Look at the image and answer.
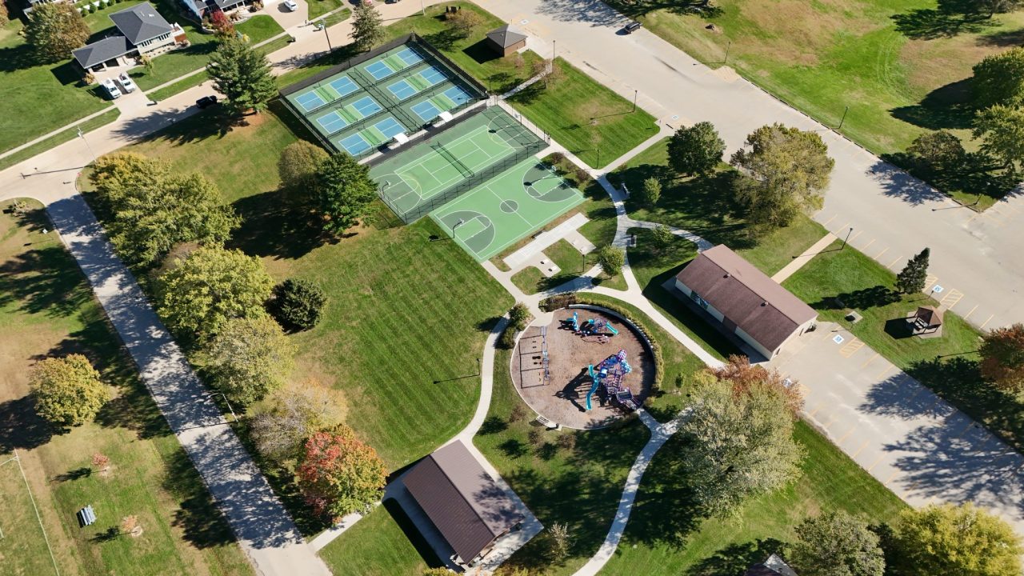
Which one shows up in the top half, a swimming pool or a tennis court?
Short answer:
tennis court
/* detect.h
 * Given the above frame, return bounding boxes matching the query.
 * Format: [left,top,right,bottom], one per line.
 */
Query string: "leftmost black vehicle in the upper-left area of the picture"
[195,95,217,108]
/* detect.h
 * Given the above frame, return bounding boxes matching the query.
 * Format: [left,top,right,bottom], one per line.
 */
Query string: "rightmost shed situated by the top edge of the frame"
[486,24,527,57]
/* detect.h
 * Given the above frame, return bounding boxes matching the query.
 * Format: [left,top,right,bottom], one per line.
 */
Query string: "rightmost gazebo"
[910,309,942,338]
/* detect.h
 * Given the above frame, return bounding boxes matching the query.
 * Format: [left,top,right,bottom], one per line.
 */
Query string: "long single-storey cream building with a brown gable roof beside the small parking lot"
[677,244,818,356]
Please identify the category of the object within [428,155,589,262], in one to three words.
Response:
basketball court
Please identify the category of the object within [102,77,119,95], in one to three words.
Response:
car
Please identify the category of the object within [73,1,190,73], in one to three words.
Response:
house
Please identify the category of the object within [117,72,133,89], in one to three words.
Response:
vehicle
